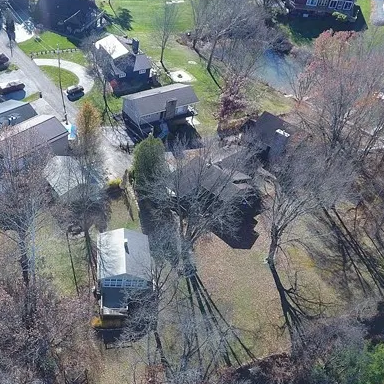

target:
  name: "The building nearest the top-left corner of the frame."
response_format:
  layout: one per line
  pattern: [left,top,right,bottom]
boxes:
[30,0,92,34]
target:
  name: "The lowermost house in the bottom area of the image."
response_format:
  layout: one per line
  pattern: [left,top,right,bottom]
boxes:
[98,229,153,320]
